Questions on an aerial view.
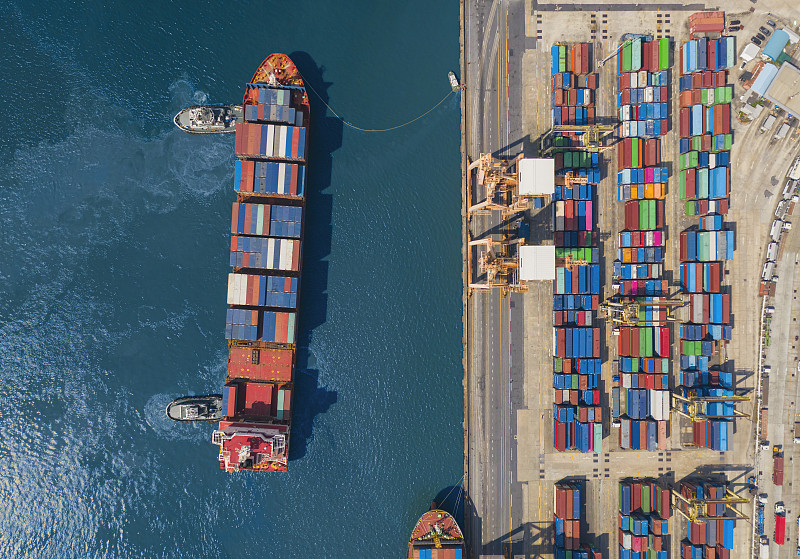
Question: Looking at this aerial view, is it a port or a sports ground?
port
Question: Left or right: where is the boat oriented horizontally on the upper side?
left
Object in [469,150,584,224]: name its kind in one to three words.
container crane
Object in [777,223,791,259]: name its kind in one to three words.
vehicle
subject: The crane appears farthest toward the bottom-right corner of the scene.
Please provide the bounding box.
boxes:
[672,481,755,522]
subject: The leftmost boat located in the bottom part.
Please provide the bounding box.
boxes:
[166,394,226,422]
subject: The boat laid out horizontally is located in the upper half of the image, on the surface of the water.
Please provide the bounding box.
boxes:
[173,105,243,134]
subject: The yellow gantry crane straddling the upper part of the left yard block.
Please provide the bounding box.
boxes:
[541,124,616,159]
